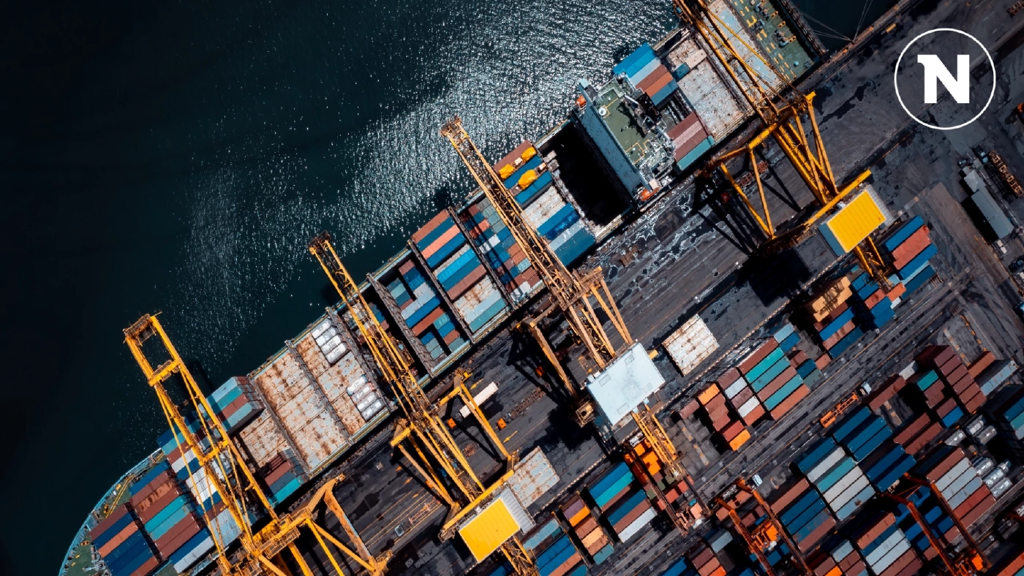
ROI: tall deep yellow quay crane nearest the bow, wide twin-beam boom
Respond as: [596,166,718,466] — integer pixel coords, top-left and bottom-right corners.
[119,310,403,576]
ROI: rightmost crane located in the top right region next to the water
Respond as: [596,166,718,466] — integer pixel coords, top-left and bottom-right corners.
[674,0,901,279]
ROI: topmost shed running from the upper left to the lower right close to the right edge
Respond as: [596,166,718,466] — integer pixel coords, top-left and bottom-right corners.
[953,168,1018,240]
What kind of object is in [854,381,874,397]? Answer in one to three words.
vehicle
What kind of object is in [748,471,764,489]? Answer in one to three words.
vehicle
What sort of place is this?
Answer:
port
